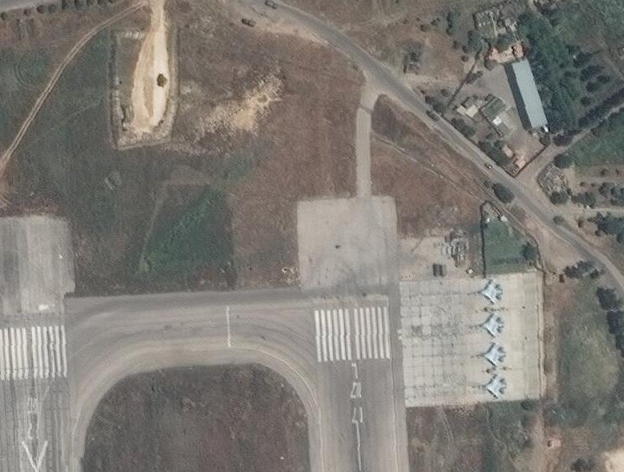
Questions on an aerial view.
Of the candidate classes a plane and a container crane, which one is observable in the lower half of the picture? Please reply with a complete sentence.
There is a plane in the lower half of the picture.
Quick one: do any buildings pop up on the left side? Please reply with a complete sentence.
No, on the left side there is no building.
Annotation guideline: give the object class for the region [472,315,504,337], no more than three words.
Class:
airplane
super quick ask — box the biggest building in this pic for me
[513,60,547,128]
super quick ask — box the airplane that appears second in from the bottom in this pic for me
[473,343,506,366]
